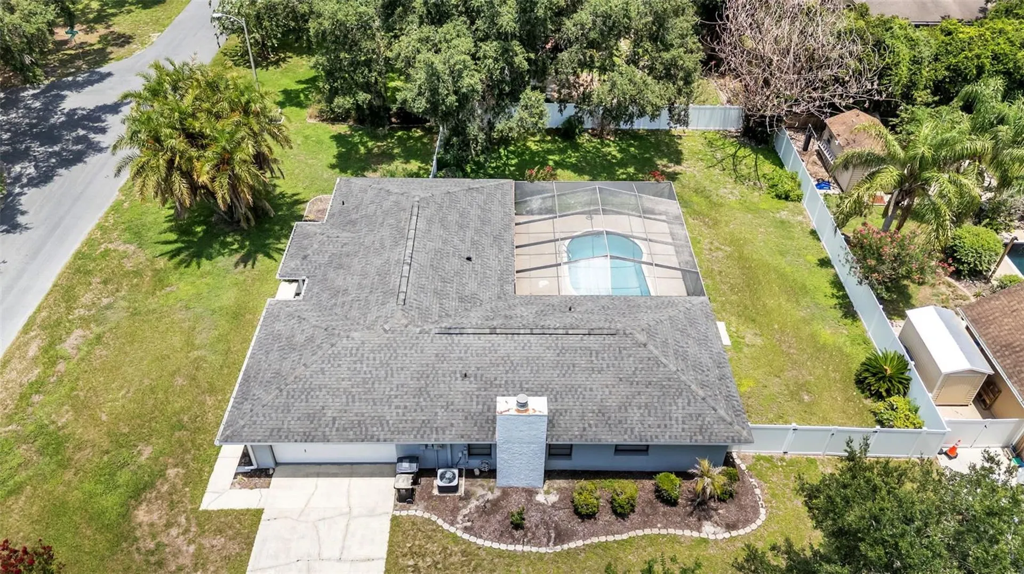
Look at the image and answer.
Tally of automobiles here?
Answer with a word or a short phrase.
none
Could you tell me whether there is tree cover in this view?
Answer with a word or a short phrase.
Yes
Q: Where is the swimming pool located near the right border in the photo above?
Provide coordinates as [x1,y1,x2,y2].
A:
[975,225,1024,287]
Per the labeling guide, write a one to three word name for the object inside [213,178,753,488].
house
